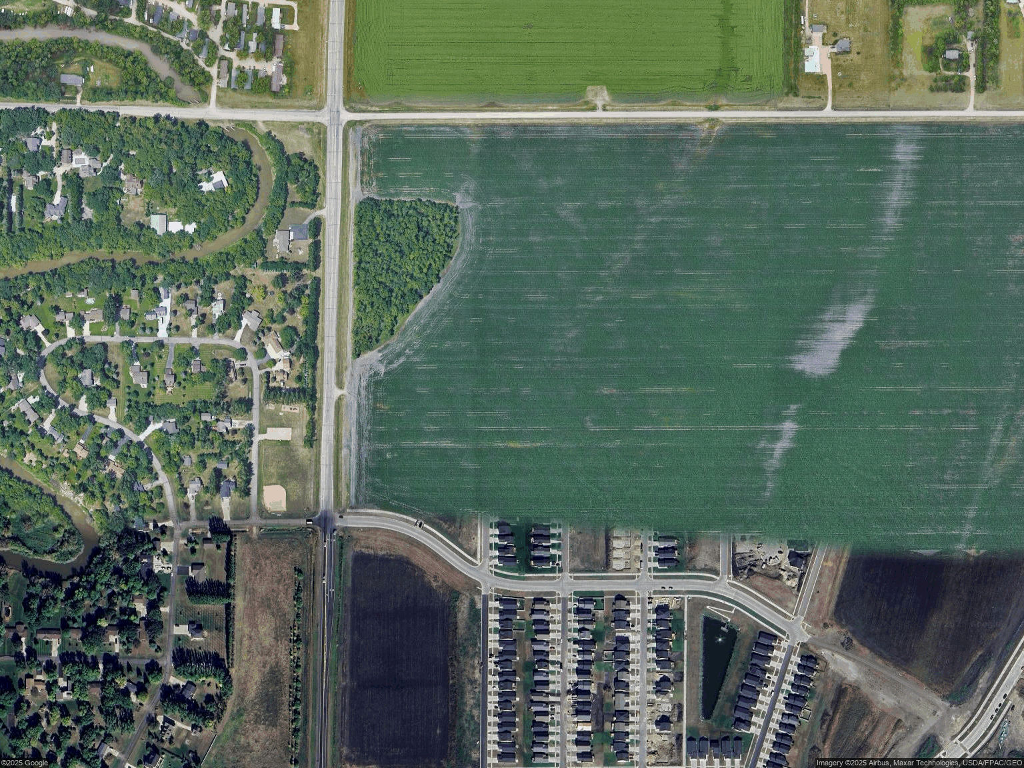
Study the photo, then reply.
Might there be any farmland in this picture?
Yes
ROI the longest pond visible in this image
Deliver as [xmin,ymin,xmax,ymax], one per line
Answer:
[702,614,737,721]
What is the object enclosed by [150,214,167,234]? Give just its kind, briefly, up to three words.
building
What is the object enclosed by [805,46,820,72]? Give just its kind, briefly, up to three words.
building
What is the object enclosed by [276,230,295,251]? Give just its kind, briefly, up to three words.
house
